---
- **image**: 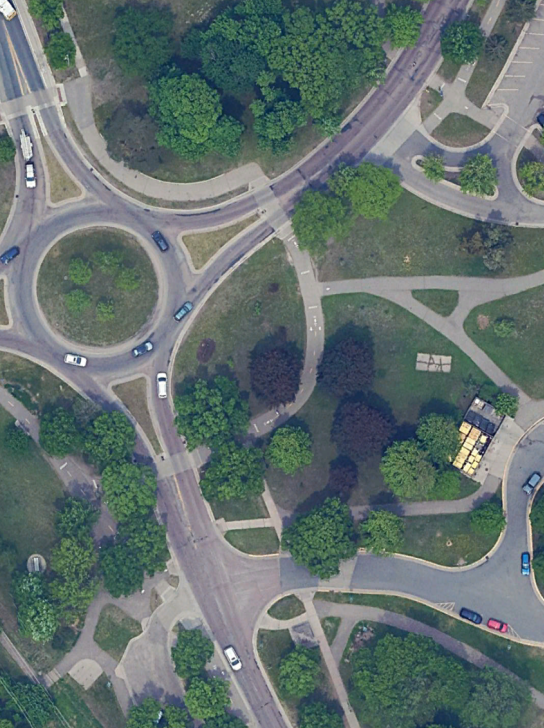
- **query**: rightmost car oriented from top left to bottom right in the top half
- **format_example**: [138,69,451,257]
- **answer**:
[152,230,170,252]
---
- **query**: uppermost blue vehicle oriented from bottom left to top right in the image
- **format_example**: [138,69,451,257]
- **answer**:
[0,246,21,264]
